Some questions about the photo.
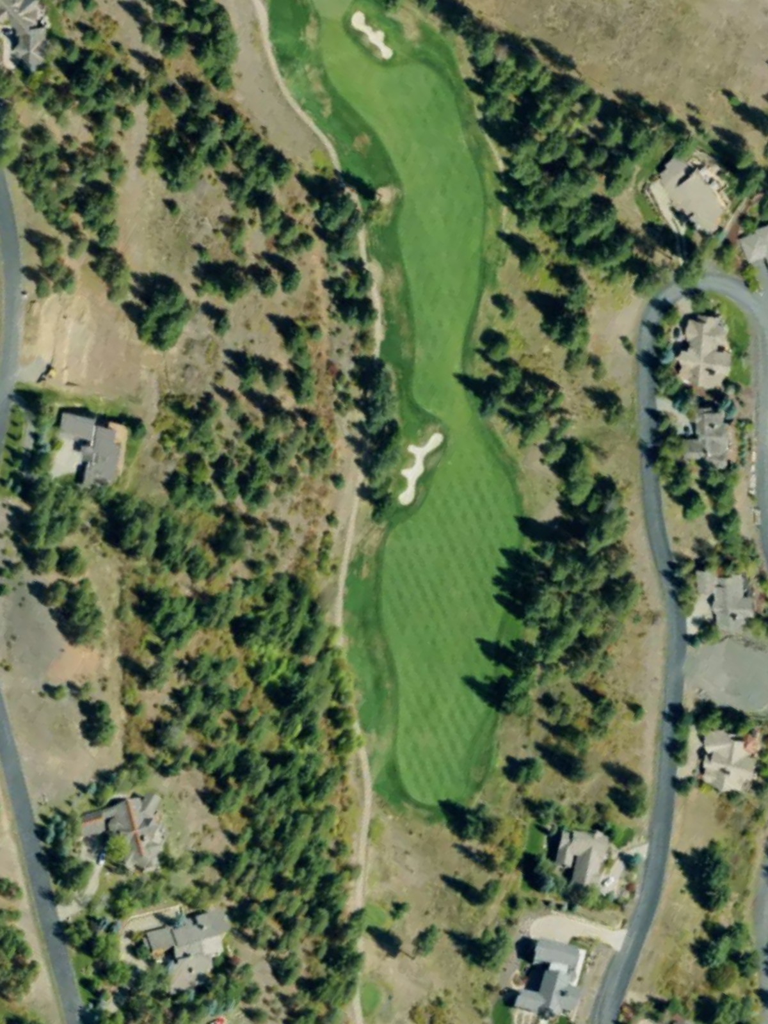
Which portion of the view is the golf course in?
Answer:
center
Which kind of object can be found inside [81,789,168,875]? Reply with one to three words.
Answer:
house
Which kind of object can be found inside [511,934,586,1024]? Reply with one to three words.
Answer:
house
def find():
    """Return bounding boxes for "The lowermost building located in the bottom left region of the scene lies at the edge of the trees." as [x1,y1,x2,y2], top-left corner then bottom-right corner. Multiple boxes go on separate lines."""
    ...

[124,904,233,993]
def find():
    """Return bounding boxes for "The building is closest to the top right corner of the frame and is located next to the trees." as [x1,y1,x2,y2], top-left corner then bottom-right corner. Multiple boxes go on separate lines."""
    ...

[658,157,732,240]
